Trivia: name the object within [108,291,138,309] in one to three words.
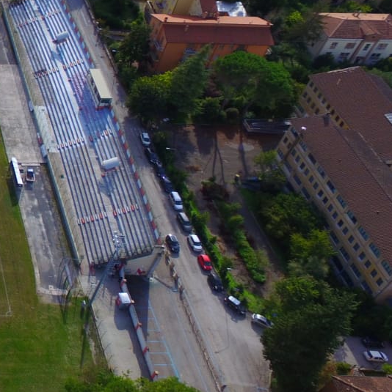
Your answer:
vehicle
